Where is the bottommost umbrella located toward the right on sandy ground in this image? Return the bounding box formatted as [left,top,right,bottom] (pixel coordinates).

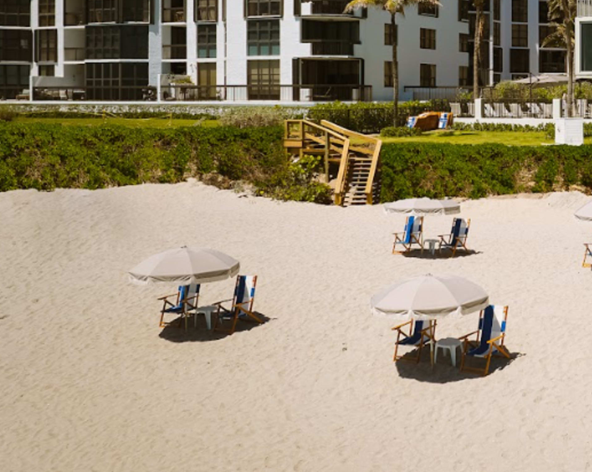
[373,275,488,368]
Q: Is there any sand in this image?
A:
Yes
